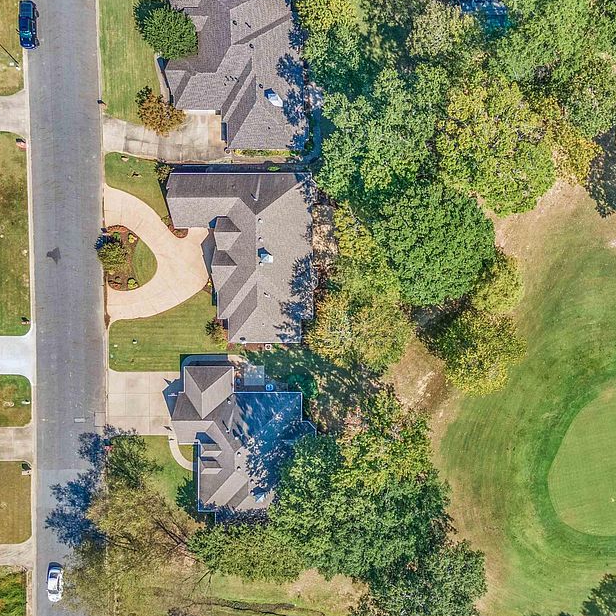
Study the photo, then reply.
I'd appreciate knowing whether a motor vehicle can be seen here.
Yes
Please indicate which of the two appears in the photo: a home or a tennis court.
home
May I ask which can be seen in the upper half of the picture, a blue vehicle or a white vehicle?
blue vehicle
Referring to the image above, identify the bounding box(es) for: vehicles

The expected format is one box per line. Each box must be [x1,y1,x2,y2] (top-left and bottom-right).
[14,0,37,48]
[42,565,63,604]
